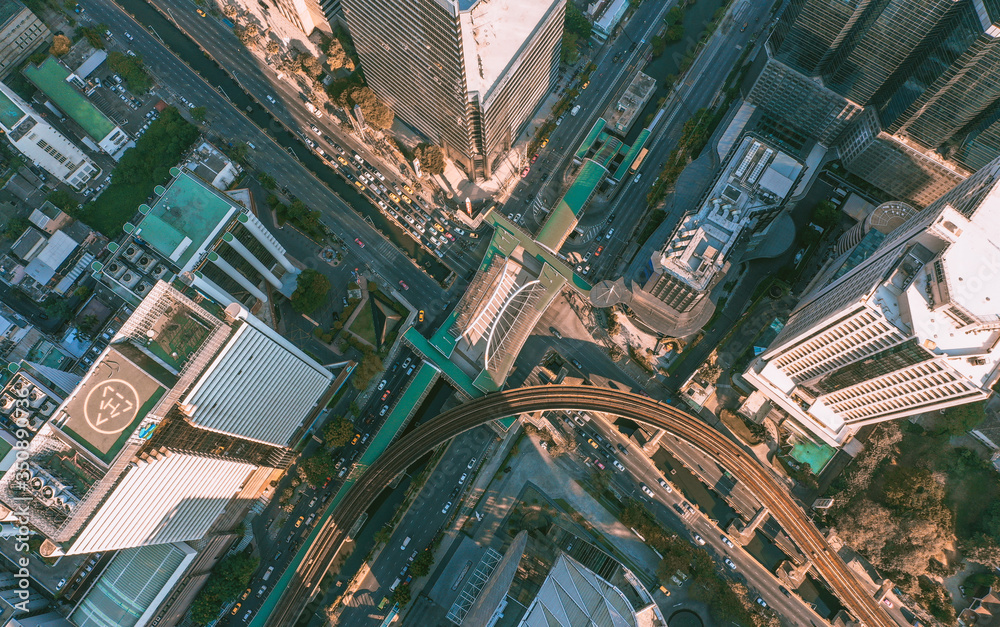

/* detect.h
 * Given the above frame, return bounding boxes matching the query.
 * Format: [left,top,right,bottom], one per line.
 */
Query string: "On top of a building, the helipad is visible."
[52,346,167,467]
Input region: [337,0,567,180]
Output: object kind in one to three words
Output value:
building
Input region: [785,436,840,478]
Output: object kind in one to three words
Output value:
swimming pool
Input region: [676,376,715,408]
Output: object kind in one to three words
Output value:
house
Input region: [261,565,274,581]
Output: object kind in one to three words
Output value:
vehicle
